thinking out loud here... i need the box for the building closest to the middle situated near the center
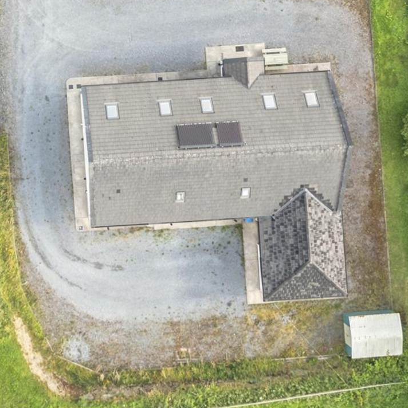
[78,57,352,304]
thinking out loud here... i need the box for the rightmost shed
[341,309,405,358]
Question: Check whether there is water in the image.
No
